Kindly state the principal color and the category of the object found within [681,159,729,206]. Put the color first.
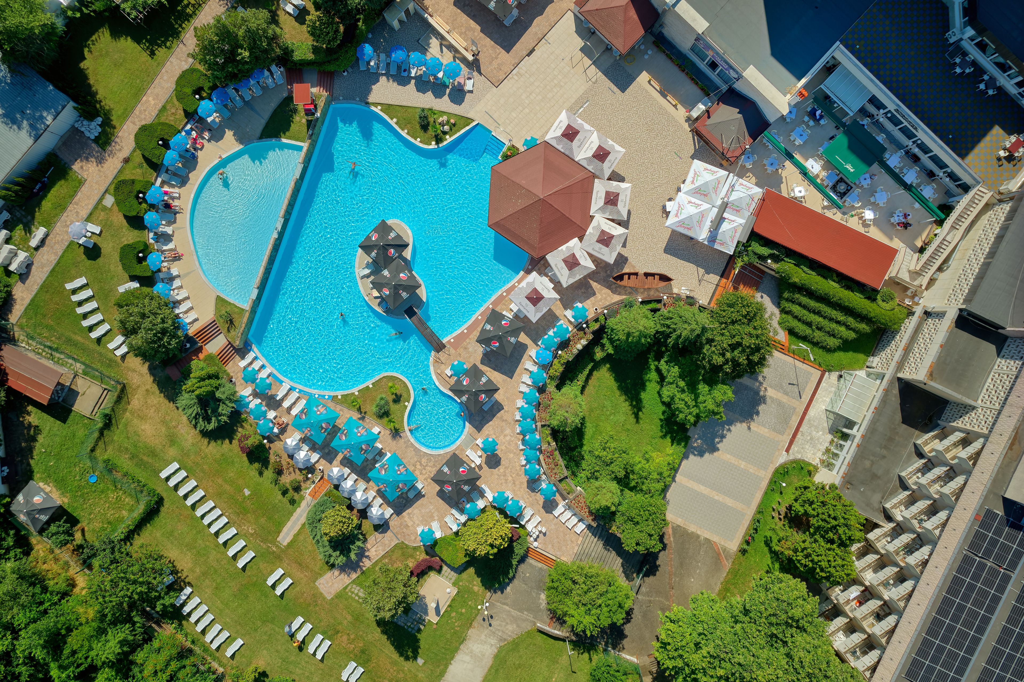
white umbrella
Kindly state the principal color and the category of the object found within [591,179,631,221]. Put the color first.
white umbrella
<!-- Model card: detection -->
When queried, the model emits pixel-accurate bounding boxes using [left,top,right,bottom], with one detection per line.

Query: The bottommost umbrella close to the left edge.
[12,480,62,532]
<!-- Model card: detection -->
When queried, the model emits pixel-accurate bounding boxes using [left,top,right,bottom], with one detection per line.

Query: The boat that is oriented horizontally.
[612,271,675,287]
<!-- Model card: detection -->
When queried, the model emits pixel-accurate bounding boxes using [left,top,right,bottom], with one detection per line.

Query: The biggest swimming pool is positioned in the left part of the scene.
[251,105,528,450]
